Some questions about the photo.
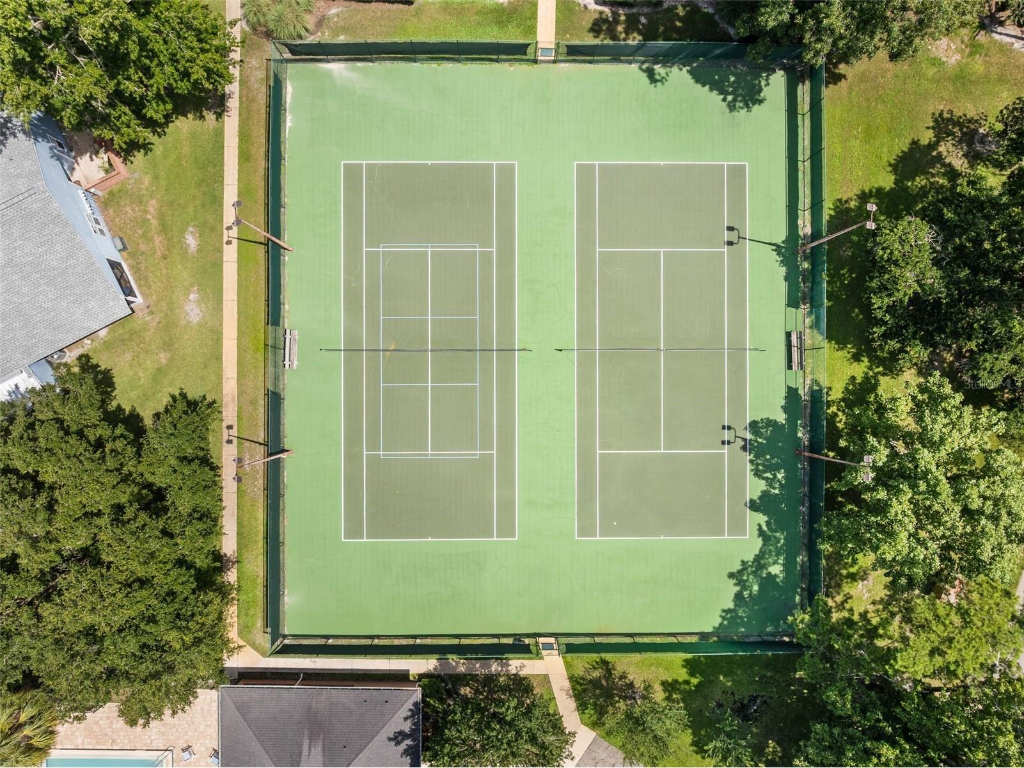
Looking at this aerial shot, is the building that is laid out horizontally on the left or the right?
left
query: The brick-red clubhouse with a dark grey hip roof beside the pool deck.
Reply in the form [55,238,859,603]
[216,671,423,768]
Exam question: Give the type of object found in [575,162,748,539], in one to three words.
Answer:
tennis court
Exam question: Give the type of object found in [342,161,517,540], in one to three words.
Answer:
tennis court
